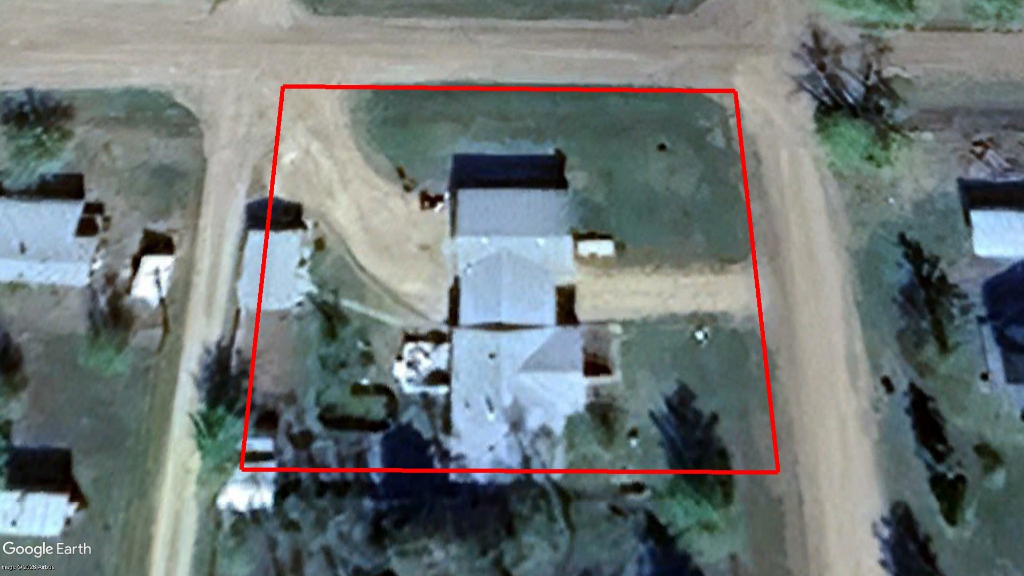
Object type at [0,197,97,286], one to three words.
house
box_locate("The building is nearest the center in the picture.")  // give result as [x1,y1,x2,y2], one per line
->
[457,183,575,328]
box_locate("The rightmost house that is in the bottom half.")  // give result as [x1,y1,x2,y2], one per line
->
[988,313,1024,386]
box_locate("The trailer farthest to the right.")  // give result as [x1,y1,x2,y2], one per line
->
[577,236,623,256]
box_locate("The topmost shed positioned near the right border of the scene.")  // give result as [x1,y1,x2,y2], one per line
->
[969,205,1024,257]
